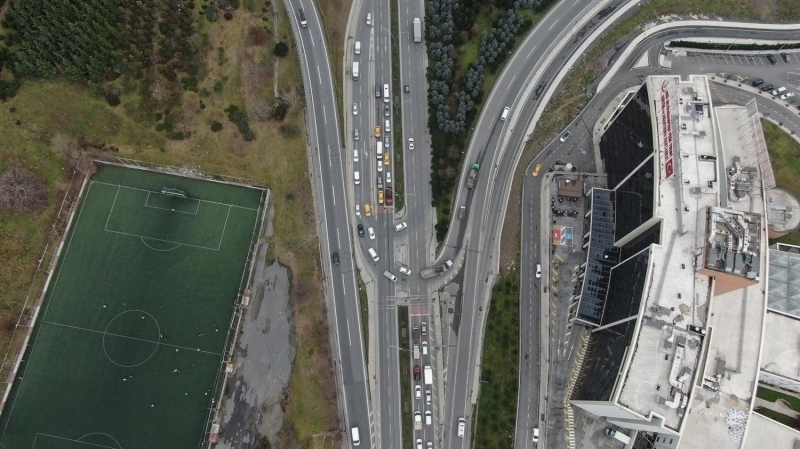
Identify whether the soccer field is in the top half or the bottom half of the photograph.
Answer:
bottom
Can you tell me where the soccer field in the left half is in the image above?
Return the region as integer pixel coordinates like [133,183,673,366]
[0,162,266,449]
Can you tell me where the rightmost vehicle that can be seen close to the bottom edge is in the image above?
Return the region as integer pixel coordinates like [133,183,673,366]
[603,427,633,445]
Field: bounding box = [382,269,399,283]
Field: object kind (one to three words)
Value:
vehicle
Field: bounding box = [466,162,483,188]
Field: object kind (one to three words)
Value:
vehicle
